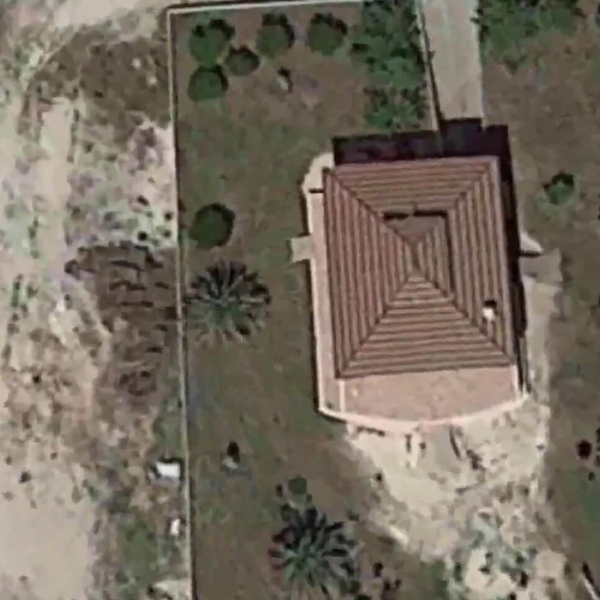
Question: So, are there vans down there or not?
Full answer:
No, I can see no van in this picture.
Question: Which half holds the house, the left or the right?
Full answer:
You can find the house on the right side of the picture.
